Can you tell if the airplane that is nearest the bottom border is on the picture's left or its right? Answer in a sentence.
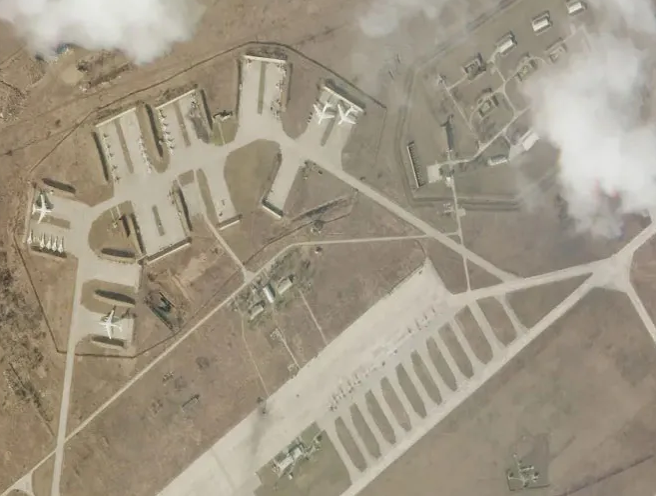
The airplane that is nearest the bottom border sits on the left side.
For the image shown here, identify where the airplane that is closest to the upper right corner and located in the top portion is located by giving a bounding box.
[338,103,357,124]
